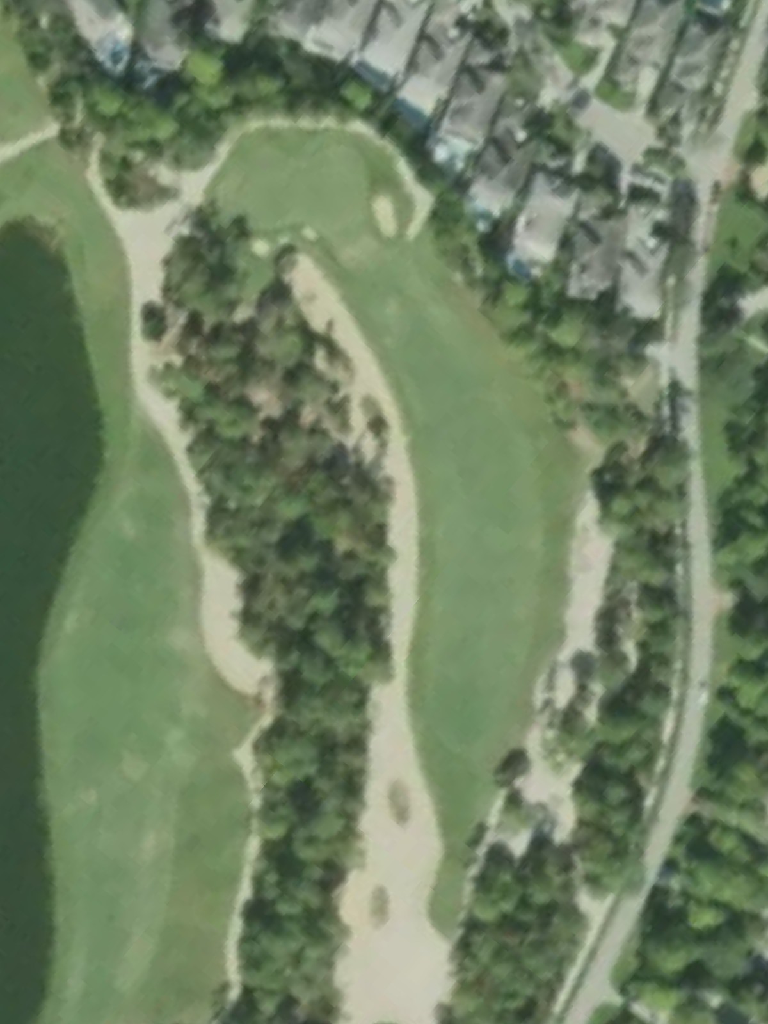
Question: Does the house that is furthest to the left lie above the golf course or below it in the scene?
above it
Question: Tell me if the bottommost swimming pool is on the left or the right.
right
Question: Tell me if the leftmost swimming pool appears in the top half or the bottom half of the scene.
top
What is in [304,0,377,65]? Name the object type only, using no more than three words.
house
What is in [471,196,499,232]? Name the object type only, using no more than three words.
swimming pool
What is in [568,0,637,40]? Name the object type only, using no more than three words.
house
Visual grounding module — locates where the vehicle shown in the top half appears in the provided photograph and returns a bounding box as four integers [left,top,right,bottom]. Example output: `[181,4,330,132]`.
[573,91,587,110]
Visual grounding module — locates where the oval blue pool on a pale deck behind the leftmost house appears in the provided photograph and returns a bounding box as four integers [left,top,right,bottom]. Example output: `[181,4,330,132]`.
[94,31,131,74]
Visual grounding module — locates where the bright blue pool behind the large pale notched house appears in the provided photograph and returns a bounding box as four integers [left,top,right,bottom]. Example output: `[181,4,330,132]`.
[509,249,544,283]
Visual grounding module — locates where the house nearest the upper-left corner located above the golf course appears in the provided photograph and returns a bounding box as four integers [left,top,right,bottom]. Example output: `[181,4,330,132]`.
[64,0,134,48]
